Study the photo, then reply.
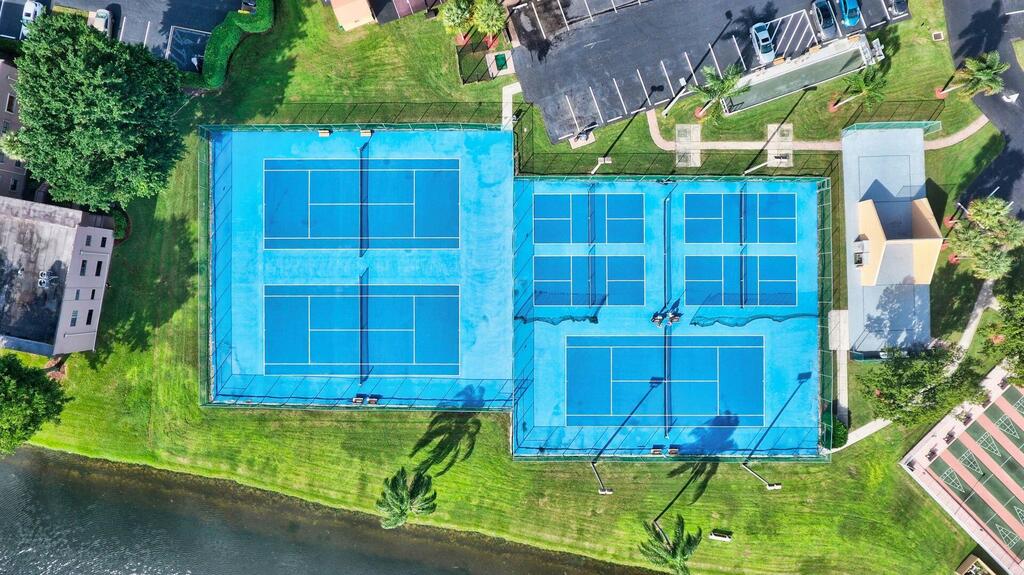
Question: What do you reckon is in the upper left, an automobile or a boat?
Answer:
automobile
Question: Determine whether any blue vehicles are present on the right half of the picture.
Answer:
Yes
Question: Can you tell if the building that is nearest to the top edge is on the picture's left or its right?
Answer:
left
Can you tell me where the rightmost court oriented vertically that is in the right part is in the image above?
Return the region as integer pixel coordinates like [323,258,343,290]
[842,125,951,351]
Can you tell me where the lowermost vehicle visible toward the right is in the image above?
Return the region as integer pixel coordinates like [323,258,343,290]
[748,23,774,66]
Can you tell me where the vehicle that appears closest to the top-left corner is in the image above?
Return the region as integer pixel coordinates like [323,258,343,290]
[18,0,45,38]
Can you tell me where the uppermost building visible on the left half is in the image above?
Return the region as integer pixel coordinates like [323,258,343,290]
[330,0,375,31]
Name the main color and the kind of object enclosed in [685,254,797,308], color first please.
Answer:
blue sports court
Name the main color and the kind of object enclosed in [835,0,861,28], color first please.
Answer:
blue car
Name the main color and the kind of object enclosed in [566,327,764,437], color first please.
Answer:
blue tennis court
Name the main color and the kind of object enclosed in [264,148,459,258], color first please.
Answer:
blue tennis court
